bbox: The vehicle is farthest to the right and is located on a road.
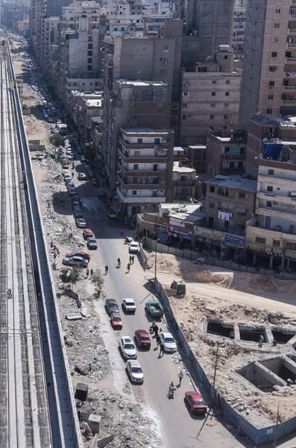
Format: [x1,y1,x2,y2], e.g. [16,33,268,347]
[182,392,212,418]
